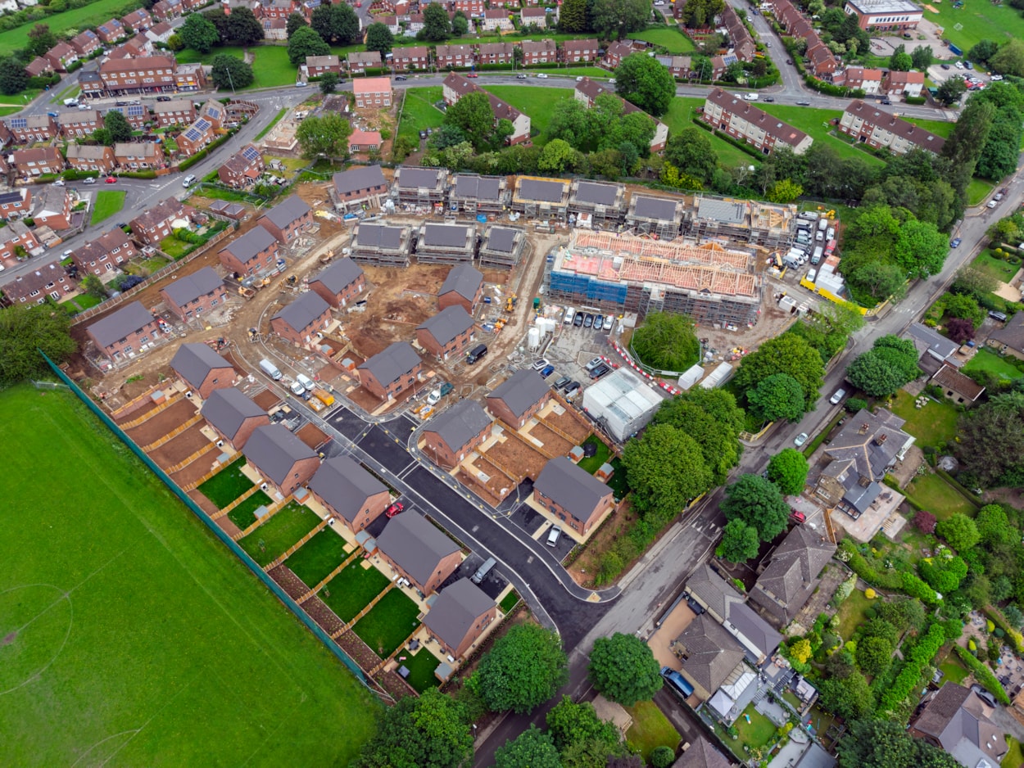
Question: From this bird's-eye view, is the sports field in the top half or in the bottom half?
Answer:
bottom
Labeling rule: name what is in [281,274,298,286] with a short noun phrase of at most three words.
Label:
vehicle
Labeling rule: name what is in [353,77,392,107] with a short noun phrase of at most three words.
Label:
house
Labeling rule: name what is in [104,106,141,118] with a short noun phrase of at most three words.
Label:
solar panel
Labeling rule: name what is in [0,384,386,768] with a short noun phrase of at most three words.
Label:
sports field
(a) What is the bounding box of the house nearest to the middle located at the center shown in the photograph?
[486,367,551,434]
